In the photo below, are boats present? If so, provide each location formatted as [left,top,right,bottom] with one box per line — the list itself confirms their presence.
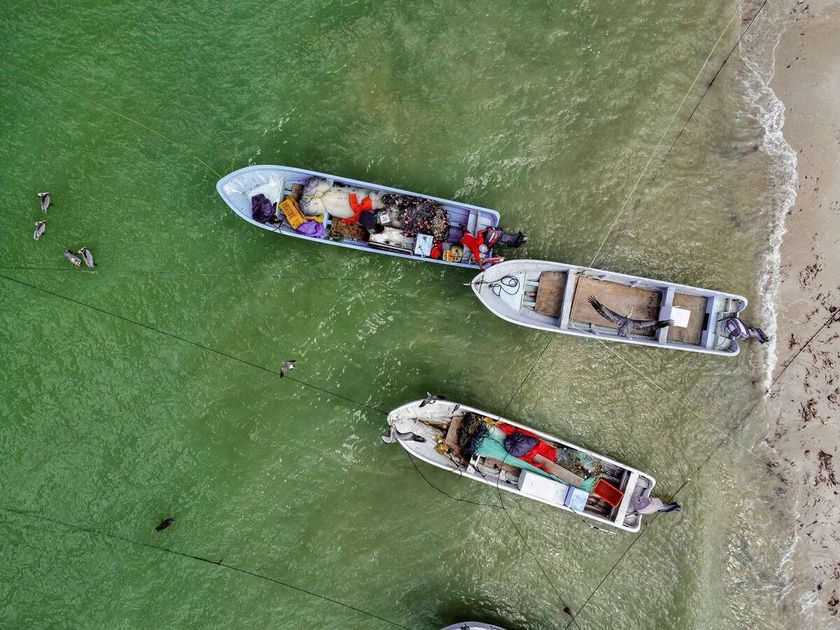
[386,402,684,530]
[470,257,773,356]
[436,618,518,630]
[217,162,529,269]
